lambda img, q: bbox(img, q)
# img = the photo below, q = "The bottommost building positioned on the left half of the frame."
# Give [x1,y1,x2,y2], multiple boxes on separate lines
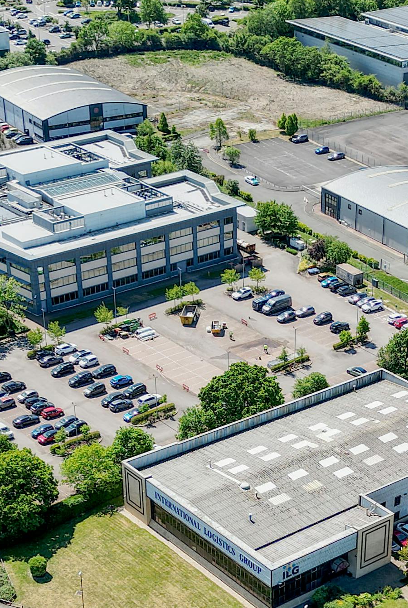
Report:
[0,128,248,317]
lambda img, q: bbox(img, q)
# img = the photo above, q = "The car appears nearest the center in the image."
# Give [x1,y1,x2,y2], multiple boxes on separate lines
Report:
[230,285,254,301]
